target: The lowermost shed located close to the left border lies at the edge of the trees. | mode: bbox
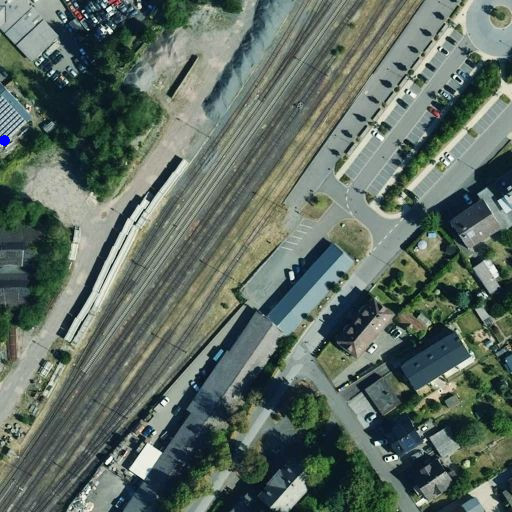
[0,273,29,306]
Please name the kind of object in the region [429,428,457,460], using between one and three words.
shed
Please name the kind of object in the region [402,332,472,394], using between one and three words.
house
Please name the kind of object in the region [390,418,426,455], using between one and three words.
house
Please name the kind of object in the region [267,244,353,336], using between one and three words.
building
